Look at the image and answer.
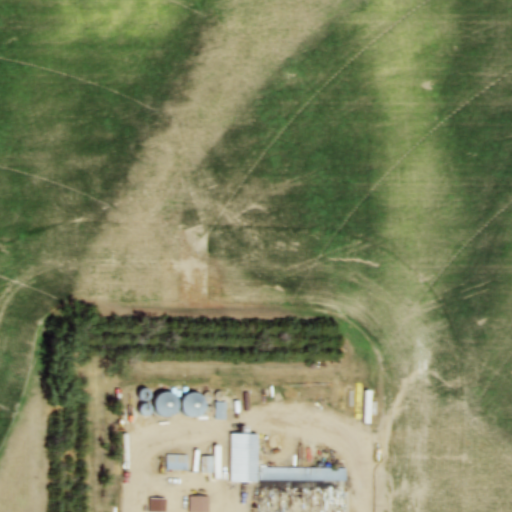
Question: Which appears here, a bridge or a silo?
silo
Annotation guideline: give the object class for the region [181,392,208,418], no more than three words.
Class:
silo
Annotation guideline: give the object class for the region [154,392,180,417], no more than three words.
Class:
silo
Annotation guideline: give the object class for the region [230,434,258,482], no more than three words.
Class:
shed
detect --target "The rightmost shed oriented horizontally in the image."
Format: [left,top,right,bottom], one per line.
[258,468,346,481]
